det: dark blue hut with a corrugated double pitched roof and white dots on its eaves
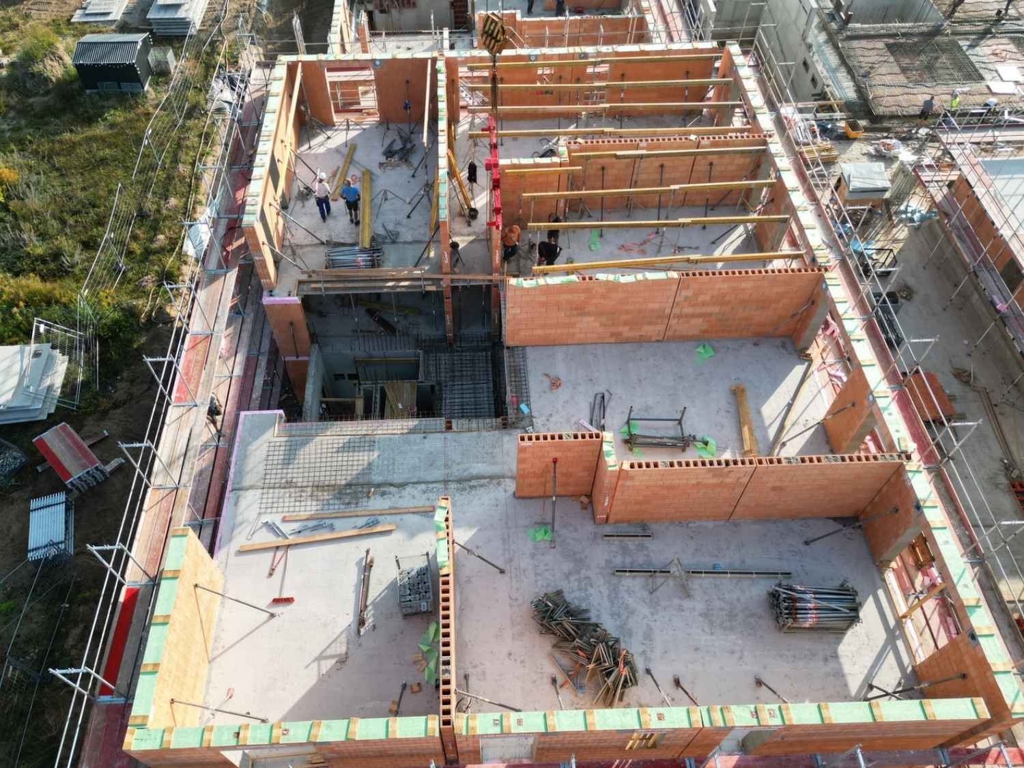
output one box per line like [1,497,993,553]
[68,37,154,89]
